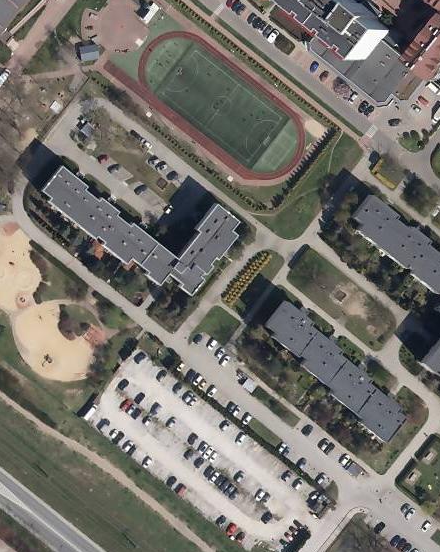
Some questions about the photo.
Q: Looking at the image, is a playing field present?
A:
Yes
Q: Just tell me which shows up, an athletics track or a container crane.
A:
athletics track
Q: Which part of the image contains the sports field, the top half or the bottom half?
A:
top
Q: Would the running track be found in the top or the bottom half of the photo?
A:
top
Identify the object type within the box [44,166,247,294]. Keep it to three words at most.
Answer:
building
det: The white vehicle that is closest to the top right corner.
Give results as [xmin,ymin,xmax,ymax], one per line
[425,80,440,94]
